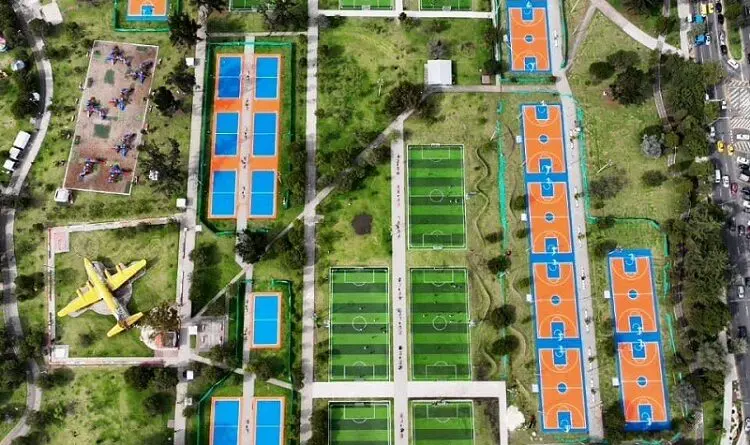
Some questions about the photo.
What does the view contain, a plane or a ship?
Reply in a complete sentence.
The image shows a plane.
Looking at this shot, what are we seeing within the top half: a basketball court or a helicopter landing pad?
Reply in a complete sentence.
What appears within the top half is a basketball court.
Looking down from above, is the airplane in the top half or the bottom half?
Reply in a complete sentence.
Seen from above, the airplane lies in the bottom half of the view.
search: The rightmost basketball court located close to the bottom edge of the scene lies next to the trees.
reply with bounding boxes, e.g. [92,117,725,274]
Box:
[614,337,672,430]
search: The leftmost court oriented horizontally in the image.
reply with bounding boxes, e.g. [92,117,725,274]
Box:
[125,0,170,21]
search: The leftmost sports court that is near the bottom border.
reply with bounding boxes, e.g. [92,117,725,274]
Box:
[207,396,245,445]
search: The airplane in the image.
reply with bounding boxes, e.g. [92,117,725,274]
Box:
[57,258,147,337]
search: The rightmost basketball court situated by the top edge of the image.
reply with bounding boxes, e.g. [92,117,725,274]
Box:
[506,2,553,75]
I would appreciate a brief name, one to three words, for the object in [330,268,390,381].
soccer field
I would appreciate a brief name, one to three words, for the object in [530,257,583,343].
basketball court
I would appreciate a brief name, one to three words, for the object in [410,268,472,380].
soccer field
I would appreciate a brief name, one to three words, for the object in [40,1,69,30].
building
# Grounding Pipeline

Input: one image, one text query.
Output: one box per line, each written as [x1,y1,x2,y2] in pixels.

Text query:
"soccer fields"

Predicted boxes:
[418,0,473,11]
[330,268,390,381]
[410,268,472,380]
[408,144,466,249]
[339,0,395,10]
[330,401,390,445]
[413,400,475,445]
